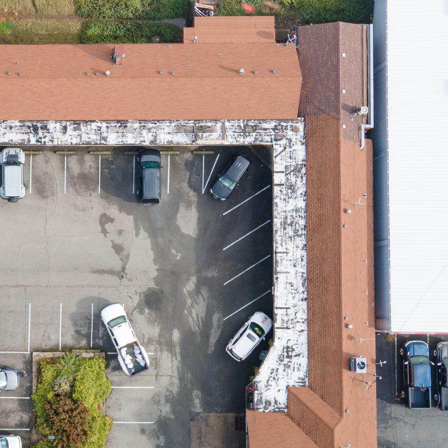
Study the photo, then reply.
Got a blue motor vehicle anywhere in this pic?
Yes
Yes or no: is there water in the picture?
No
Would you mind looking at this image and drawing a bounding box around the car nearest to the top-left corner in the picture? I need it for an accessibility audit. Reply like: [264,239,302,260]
[0,149,26,204]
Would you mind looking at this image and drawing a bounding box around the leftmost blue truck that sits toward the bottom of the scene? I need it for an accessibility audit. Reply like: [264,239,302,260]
[399,339,433,411]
